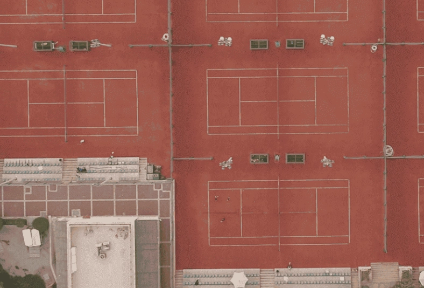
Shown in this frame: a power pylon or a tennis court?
tennis court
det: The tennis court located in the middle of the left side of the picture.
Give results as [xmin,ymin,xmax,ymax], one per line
[0,45,175,184]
